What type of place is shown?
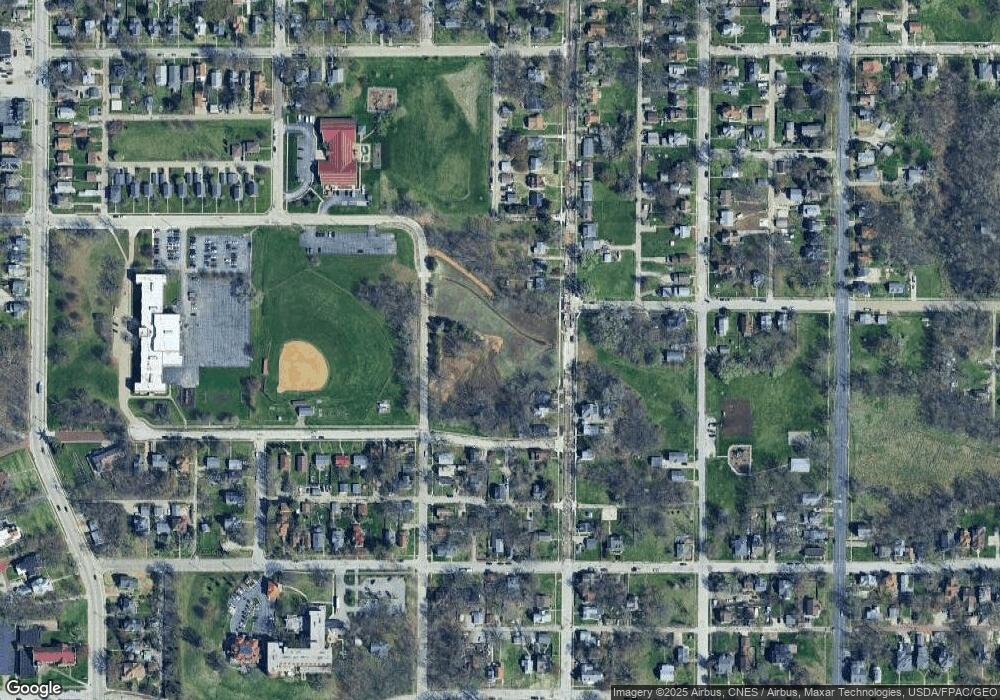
residential area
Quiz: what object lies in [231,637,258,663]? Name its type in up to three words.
house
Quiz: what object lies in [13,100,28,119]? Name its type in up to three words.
building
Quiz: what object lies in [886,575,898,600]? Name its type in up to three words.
house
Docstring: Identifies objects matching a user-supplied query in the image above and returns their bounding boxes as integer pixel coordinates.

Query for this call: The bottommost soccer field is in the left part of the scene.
[200,368,247,424]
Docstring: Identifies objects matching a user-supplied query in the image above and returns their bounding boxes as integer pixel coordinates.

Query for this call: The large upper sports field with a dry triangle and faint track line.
[366,57,490,214]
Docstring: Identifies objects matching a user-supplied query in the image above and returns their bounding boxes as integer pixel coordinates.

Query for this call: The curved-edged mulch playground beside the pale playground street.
[729,445,752,474]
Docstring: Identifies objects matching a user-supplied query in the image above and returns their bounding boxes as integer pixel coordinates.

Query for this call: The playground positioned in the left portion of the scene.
[367,88,397,112]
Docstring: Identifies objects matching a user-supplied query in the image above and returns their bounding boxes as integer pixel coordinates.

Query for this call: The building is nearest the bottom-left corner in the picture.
[20,630,75,679]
